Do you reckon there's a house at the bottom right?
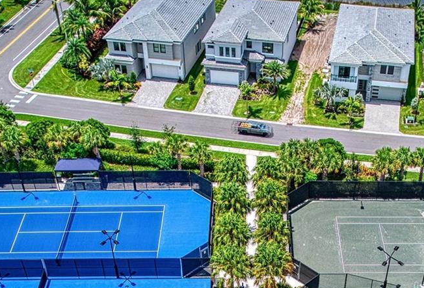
No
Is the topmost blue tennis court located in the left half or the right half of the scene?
left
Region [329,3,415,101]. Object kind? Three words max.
house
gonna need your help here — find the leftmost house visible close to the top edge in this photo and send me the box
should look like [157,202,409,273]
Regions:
[104,0,211,80]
